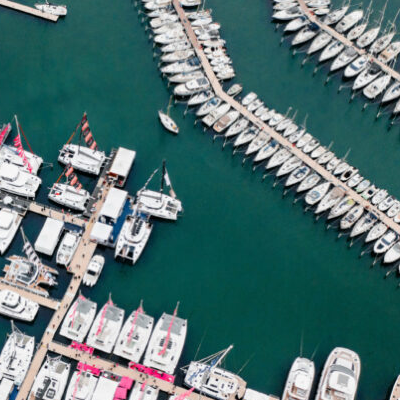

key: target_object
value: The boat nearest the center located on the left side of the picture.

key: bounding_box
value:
[135,161,180,221]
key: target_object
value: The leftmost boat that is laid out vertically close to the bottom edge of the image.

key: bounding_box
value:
[0,319,34,386]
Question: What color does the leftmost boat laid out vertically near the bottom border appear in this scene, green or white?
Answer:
white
